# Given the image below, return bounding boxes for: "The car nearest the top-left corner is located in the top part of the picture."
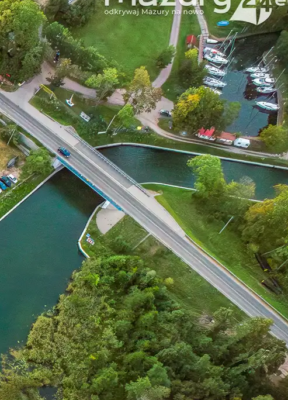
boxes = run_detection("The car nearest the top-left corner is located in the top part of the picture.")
[57,146,71,158]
